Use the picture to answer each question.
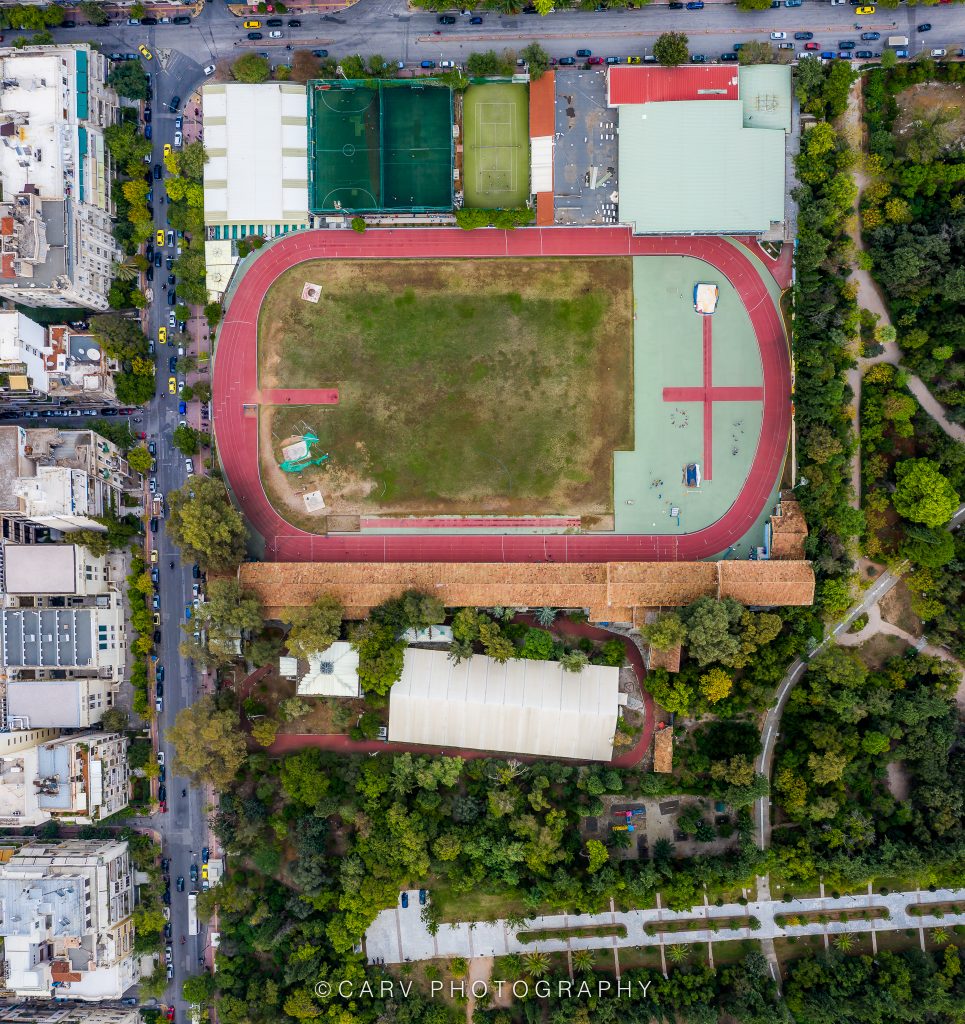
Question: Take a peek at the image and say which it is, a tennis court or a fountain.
tennis court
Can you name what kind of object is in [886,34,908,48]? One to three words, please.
vehicle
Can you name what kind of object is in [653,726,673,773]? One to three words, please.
shed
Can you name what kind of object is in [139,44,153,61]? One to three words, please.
car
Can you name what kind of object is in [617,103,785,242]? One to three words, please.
building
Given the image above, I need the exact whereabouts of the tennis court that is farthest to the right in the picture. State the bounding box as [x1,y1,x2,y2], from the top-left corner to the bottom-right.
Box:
[463,83,530,209]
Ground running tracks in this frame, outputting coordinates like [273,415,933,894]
[203,225,793,562]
